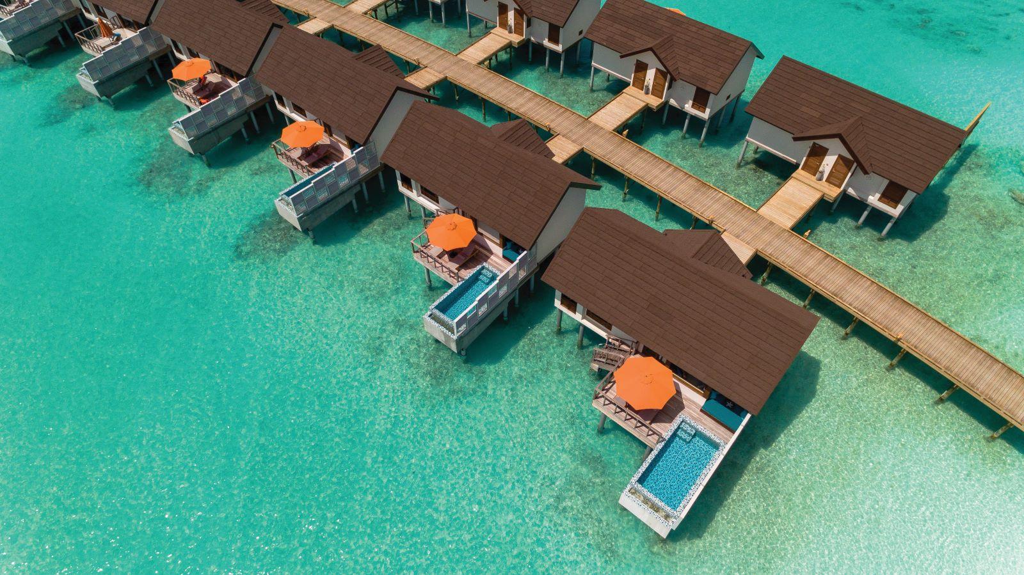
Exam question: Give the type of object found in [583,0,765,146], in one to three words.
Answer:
house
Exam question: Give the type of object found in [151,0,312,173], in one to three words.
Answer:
house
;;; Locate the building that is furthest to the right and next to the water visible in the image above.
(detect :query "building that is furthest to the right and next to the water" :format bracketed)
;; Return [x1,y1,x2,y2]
[740,54,987,241]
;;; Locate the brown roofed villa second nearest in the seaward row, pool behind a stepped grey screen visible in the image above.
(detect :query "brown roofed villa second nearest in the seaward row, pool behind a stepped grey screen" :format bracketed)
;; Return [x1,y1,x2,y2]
[379,99,603,364]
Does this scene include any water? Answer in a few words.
Yes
